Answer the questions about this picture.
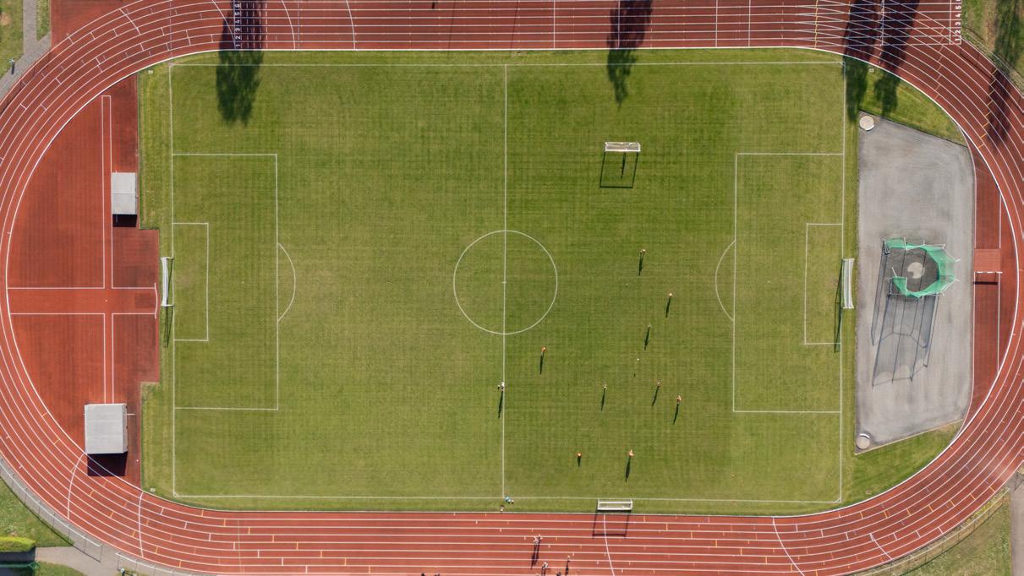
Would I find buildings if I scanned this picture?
No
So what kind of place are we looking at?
sports ground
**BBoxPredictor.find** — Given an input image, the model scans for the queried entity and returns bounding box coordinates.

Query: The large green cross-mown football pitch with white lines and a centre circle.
[137,47,967,516]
